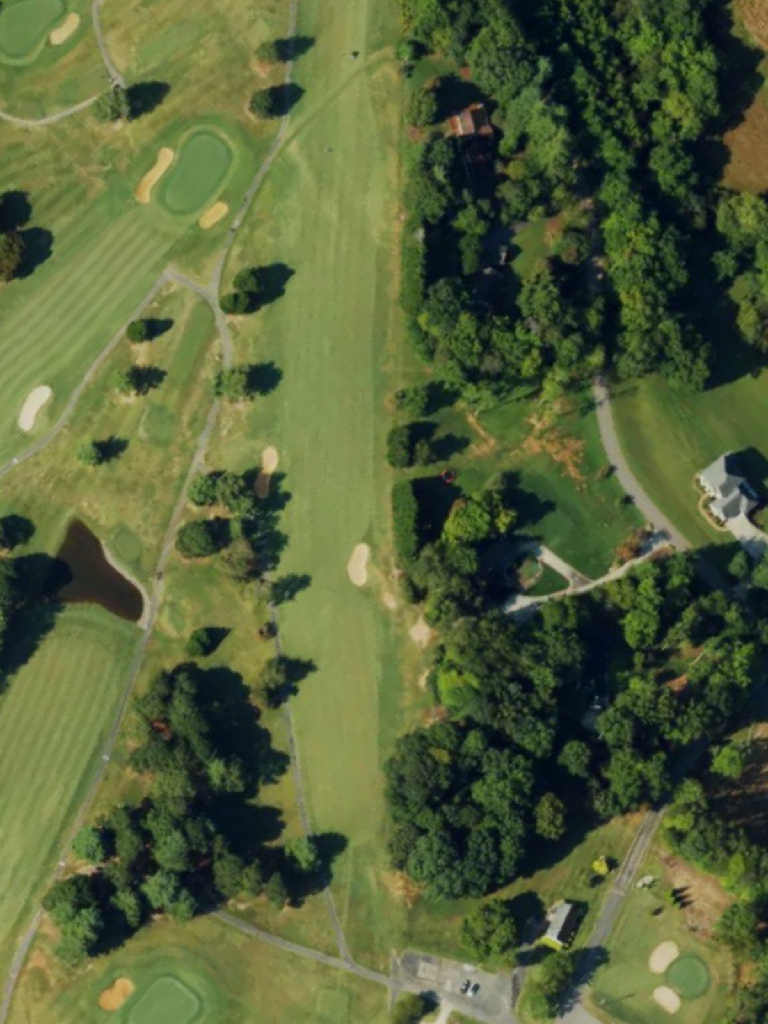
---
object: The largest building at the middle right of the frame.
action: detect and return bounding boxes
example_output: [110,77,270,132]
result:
[696,450,762,521]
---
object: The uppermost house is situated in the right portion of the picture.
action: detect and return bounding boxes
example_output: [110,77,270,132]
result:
[450,102,492,135]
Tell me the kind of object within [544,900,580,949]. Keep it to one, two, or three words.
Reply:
house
